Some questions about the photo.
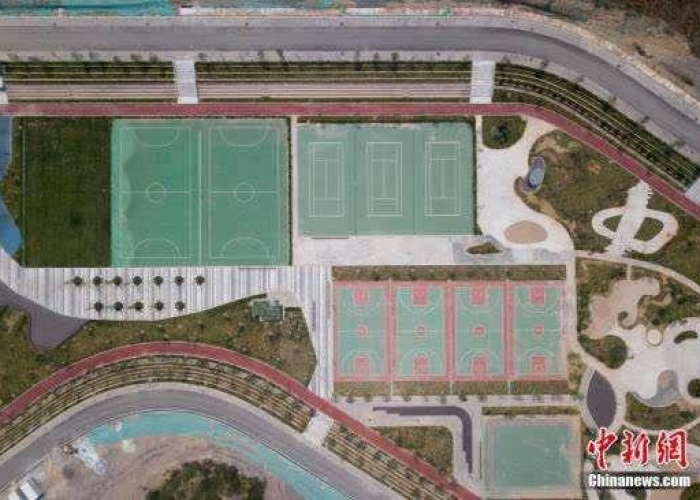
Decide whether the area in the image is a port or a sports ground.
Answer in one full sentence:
The area seen from above is a sports ground.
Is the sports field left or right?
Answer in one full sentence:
The sports field sits on the left side.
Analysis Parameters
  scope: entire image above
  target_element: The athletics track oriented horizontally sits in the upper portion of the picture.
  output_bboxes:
[0,103,700,222]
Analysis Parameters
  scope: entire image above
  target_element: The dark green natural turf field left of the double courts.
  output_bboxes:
[23,120,111,267]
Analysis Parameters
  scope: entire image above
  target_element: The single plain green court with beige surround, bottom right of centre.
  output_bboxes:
[483,415,582,498]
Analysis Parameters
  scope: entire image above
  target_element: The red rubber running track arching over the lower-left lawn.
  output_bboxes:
[0,341,481,500]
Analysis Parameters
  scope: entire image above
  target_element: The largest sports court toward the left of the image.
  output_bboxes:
[111,120,288,267]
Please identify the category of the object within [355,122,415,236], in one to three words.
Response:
tennis court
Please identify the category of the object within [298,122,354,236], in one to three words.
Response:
tennis court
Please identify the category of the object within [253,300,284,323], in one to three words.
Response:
building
